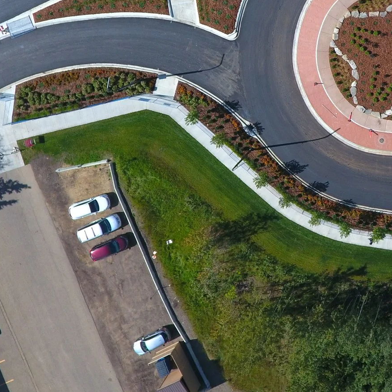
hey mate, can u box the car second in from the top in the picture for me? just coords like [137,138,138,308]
[77,213,123,241]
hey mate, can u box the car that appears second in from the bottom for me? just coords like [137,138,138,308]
[88,233,131,262]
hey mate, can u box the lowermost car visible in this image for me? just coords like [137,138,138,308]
[132,328,172,355]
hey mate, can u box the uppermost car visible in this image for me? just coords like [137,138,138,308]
[68,193,112,220]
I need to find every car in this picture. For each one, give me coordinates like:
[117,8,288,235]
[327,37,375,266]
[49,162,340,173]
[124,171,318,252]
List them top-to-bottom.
[68,193,112,220]
[77,213,123,241]
[88,233,131,262]
[132,328,172,355]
